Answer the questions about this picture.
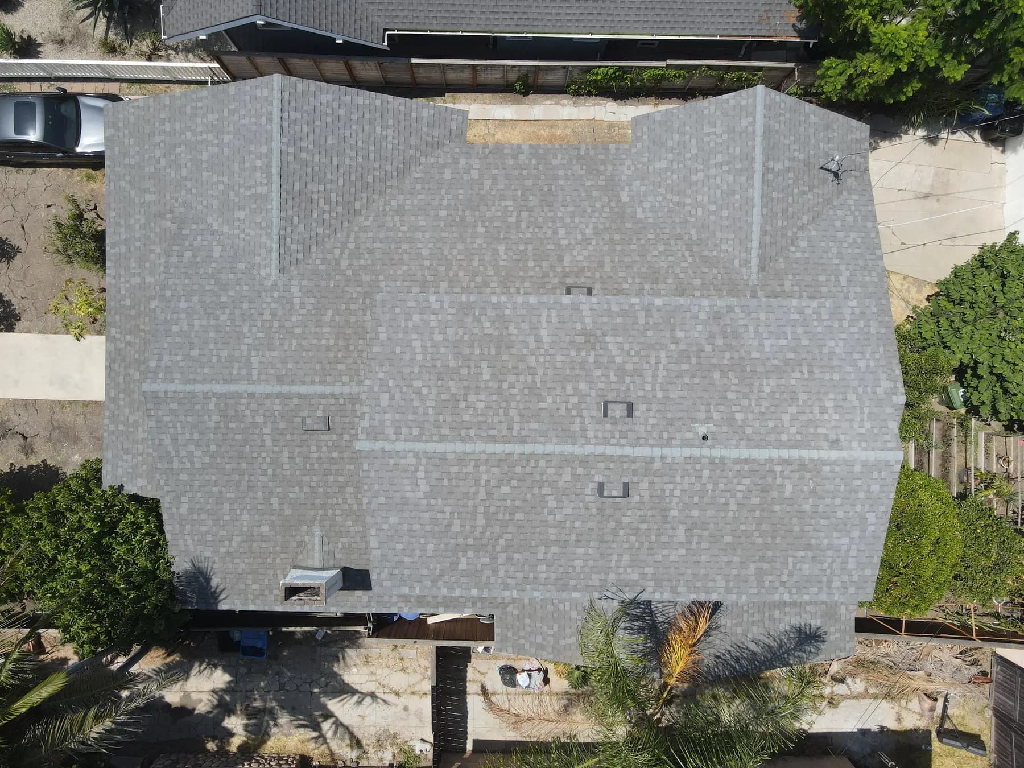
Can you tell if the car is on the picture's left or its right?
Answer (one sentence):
The car is on the left side of the image.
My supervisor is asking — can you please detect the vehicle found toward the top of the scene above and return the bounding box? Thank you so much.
[0,81,122,163]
